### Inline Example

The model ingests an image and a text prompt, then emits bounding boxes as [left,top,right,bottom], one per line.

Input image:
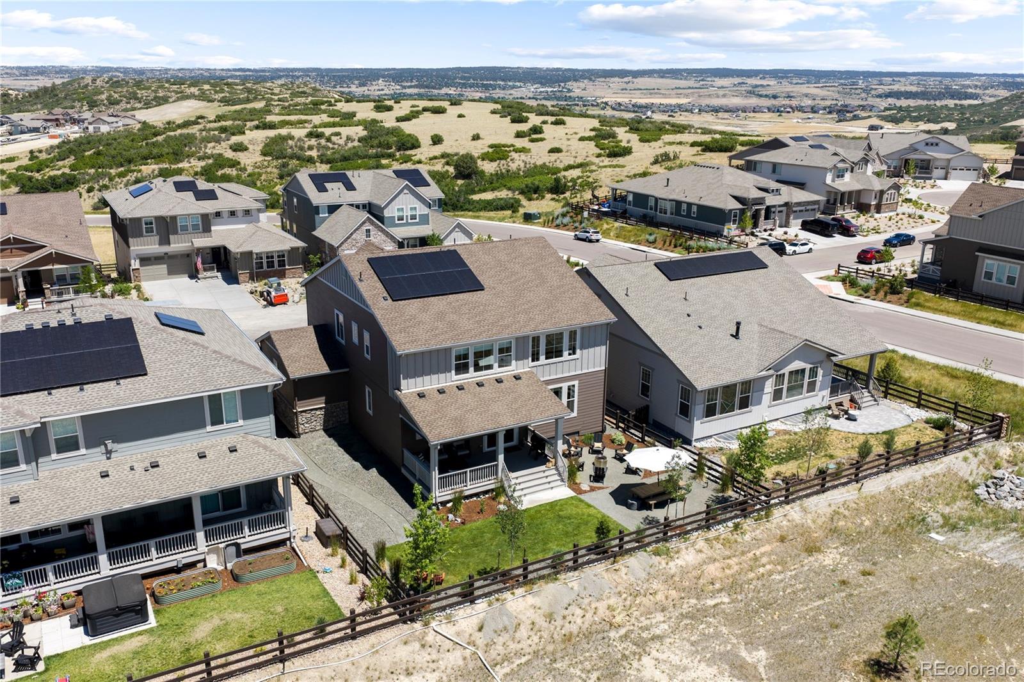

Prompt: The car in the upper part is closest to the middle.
[572,225,608,242]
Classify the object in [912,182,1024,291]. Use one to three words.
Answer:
house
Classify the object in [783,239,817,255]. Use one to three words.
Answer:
car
